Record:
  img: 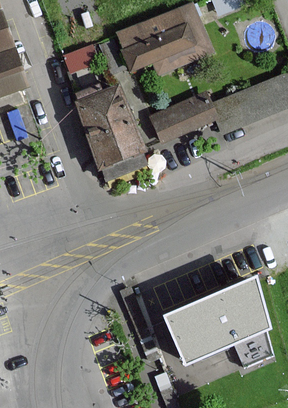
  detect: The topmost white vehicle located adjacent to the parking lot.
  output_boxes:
[262,246,276,268]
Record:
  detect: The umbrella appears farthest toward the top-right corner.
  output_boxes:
[148,154,166,172]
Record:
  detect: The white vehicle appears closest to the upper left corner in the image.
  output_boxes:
[28,0,42,17]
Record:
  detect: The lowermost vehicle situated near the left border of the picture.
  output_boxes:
[6,356,28,370]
